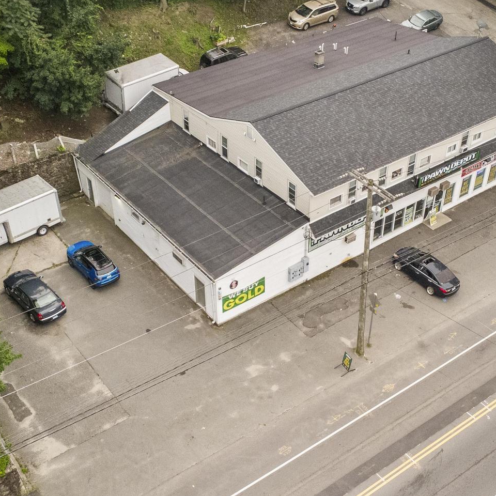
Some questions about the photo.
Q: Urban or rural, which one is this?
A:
urban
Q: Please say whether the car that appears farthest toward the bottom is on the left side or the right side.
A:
left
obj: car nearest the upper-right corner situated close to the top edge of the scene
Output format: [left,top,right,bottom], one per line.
[397,7,448,31]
